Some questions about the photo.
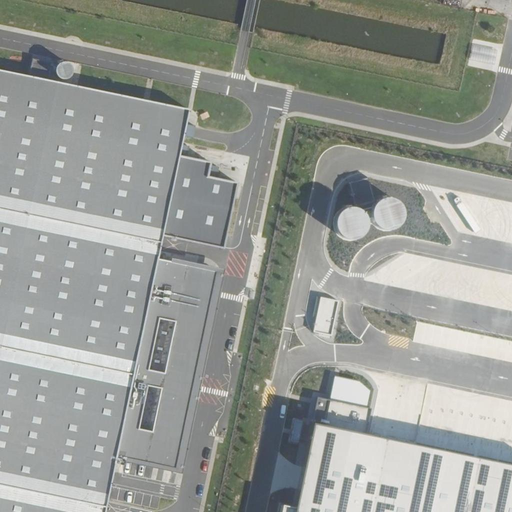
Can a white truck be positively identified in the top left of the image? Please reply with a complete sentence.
No, there's no white truck to be seen in the top left of the image.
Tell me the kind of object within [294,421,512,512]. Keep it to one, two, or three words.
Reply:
building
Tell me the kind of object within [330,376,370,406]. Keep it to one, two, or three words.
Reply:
building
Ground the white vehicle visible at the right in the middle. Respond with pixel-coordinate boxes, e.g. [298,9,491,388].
[454,196,480,233]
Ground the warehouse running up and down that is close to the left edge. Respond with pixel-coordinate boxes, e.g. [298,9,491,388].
[0,70,188,512]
